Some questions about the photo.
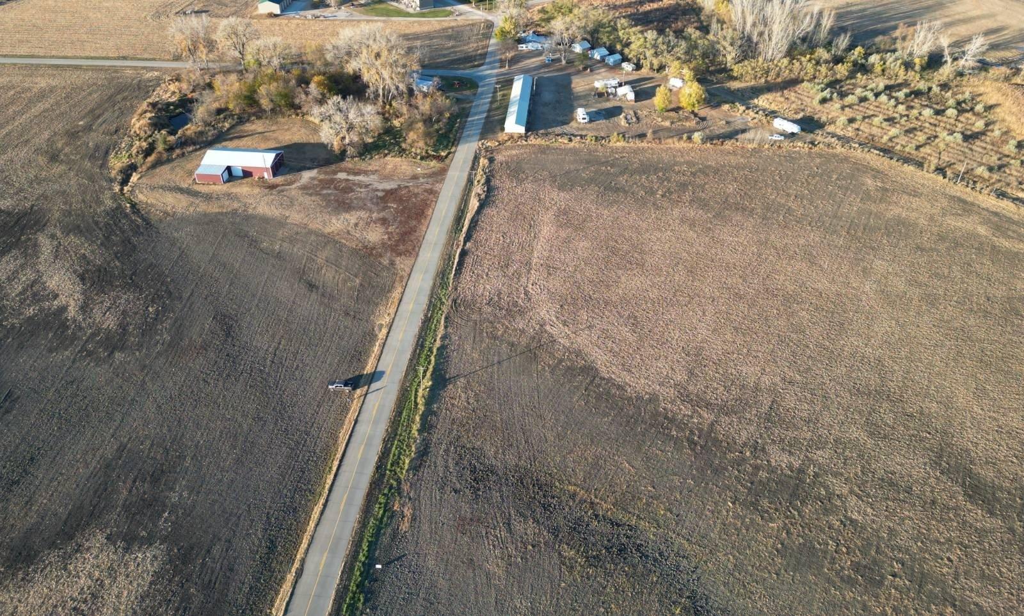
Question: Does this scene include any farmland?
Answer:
Yes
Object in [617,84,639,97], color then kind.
white vehicle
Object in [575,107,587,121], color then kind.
white vehicle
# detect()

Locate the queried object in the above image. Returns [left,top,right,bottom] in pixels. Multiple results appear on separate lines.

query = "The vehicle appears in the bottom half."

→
[328,380,356,392]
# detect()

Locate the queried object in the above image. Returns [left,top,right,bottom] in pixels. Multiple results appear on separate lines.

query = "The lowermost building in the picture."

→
[193,147,296,184]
